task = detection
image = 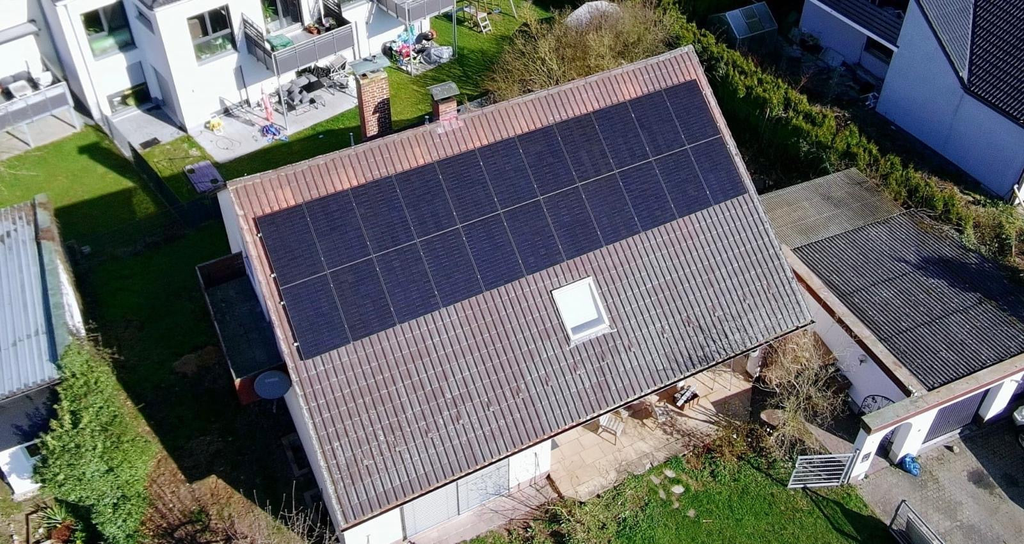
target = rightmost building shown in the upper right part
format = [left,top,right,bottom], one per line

[877,0,1024,199]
